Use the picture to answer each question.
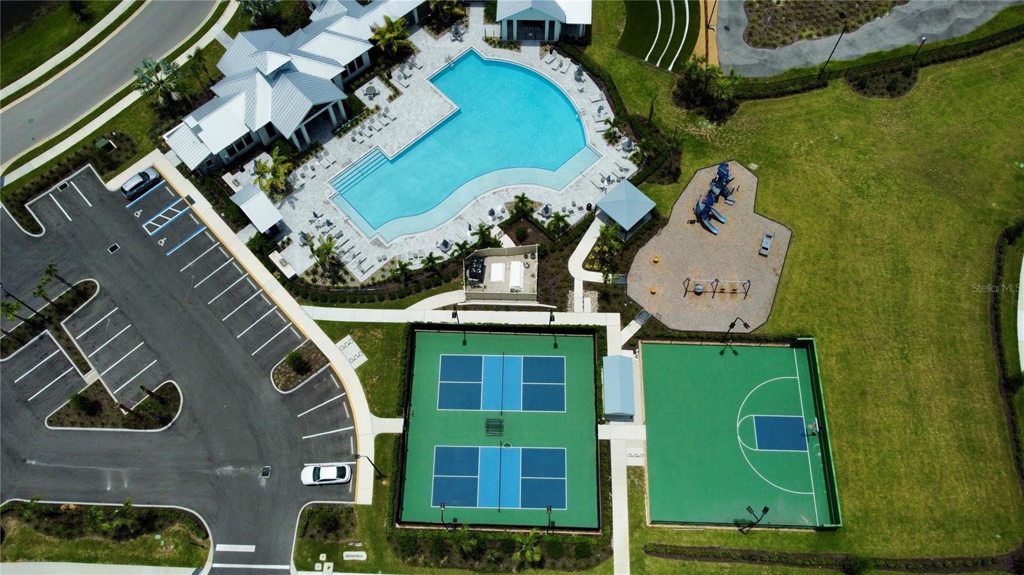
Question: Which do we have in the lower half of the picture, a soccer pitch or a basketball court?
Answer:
basketball court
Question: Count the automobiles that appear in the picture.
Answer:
2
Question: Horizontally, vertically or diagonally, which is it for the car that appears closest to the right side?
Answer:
horizontally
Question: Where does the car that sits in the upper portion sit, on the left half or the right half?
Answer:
left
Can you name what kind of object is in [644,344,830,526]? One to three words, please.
basketball court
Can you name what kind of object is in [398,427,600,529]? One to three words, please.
sports court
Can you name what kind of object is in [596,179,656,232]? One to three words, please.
gazebo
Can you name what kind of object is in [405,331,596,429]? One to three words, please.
sports court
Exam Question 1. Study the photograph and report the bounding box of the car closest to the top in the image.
[117,168,161,200]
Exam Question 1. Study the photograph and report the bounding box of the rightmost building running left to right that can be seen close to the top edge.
[496,0,591,40]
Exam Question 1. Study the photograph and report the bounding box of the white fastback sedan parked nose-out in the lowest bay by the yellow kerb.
[301,460,351,484]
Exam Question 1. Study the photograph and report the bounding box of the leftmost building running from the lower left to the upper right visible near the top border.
[160,0,438,179]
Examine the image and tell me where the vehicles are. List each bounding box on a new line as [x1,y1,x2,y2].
[117,168,161,200]
[301,460,351,484]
